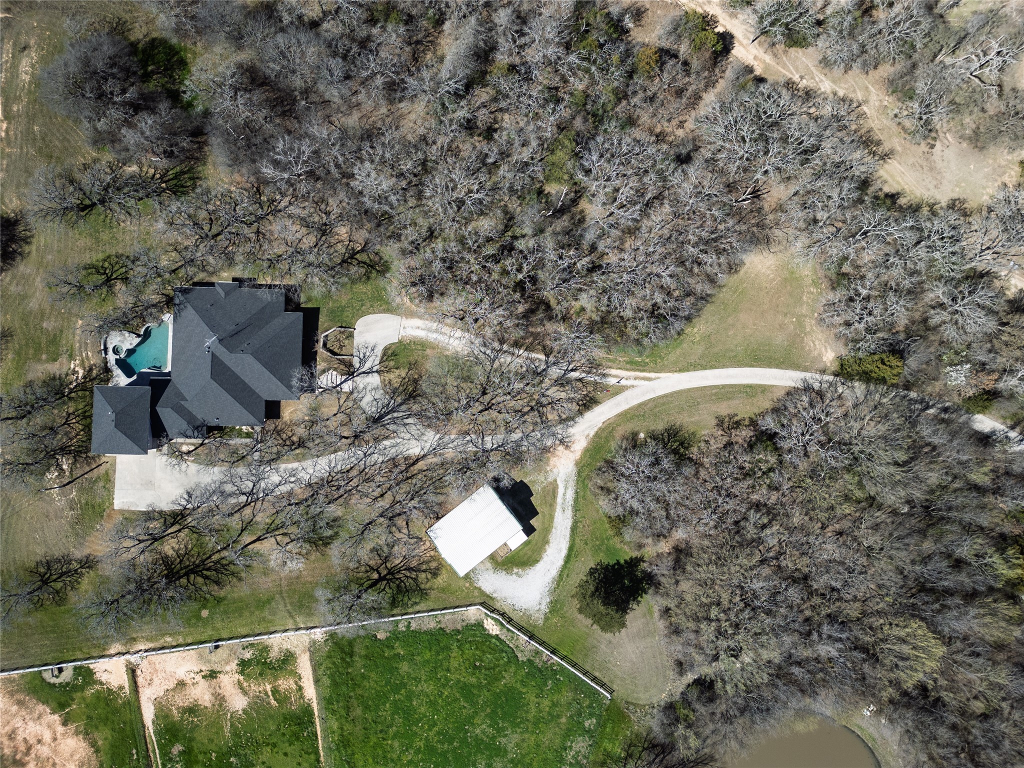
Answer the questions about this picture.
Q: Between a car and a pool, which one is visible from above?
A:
pool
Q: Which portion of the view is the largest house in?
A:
left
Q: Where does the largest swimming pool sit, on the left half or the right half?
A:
left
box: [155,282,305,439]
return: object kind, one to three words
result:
house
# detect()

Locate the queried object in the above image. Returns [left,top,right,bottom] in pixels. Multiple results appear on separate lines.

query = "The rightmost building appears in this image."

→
[426,483,528,576]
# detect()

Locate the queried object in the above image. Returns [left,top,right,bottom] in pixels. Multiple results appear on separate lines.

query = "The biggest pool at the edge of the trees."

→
[113,318,171,381]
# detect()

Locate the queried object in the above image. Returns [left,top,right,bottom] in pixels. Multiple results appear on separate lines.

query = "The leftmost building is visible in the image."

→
[91,385,159,455]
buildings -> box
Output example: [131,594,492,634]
[426,483,528,576]
[155,282,305,439]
